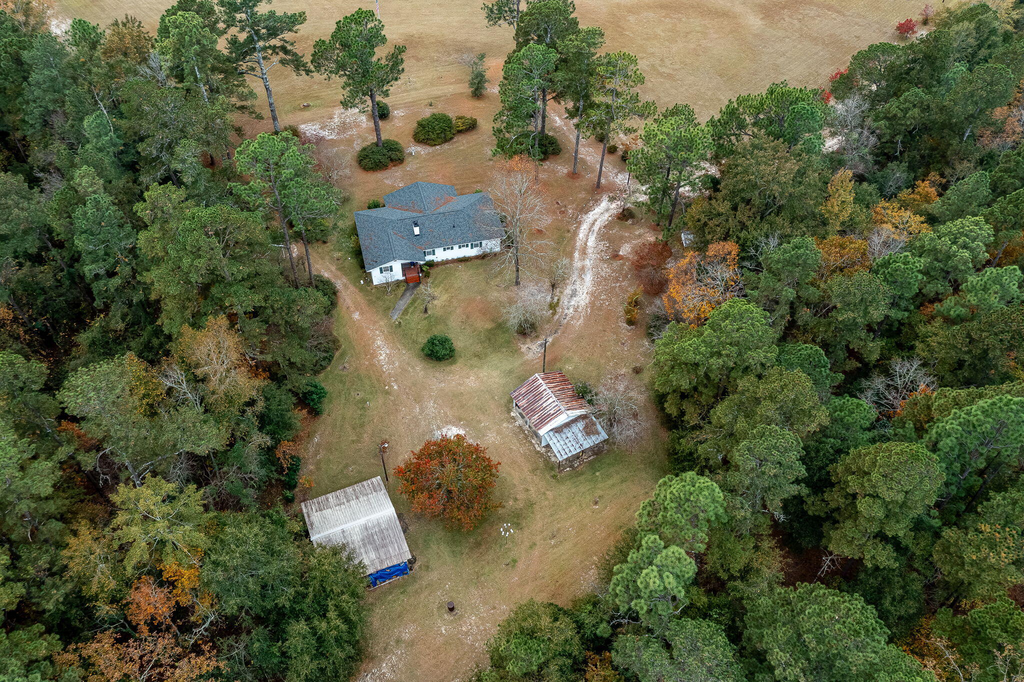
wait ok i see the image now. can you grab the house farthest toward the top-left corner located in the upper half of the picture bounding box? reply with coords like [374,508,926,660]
[354,183,507,284]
